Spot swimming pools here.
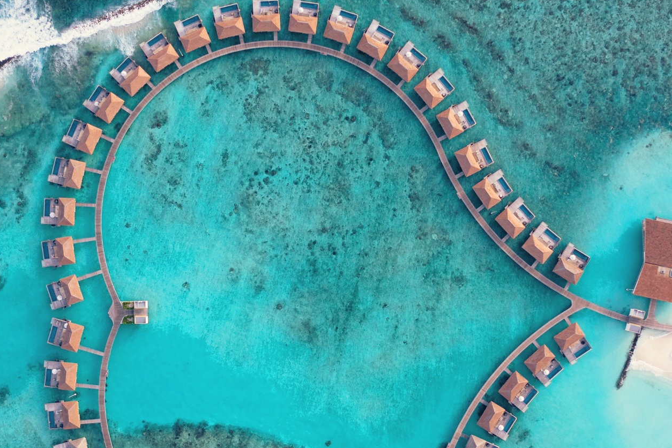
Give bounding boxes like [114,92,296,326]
[48,324,59,344]
[409,46,428,62]
[574,345,592,361]
[145,31,163,47]
[481,144,495,163]
[546,366,564,382]
[180,14,200,26]
[42,241,50,261]
[519,202,537,219]
[498,174,514,193]
[67,119,80,138]
[299,0,319,8]
[376,23,395,37]
[503,417,518,435]
[48,409,55,429]
[259,0,278,6]
[523,389,540,407]
[115,57,132,73]
[43,199,50,218]
[463,107,477,126]
[45,367,51,386]
[87,85,103,103]
[51,157,62,177]
[543,226,562,242]
[572,246,590,261]
[339,8,358,19]
[440,73,456,91]
[46,284,58,304]
[219,2,239,13]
